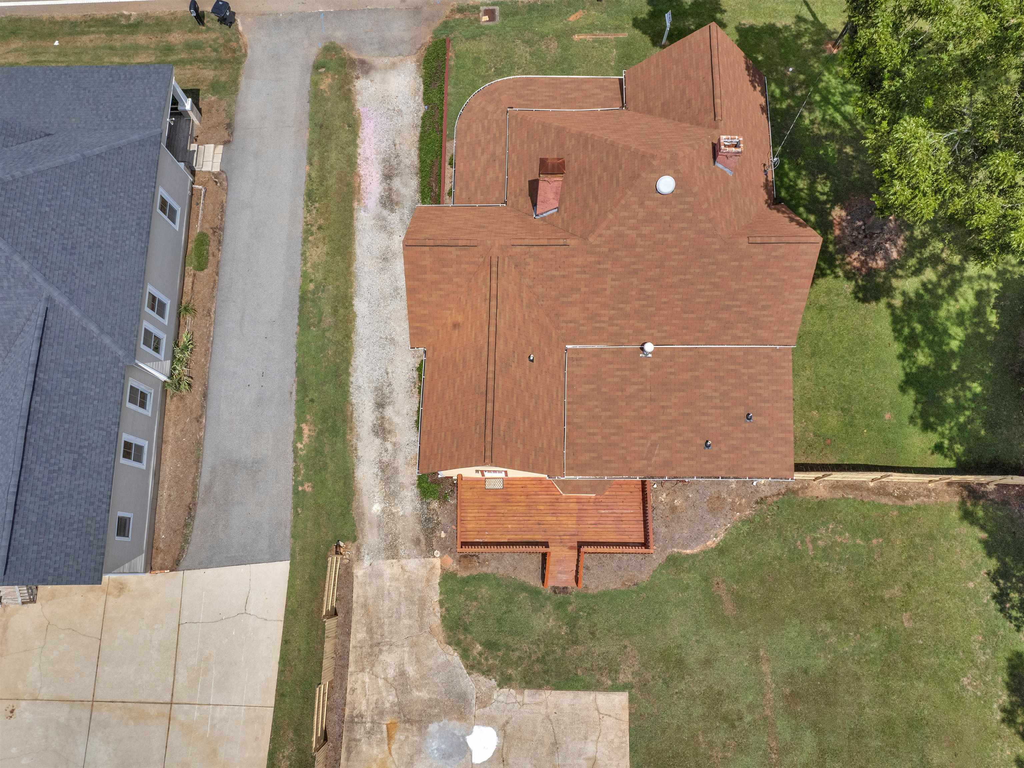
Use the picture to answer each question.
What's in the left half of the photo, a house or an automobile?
house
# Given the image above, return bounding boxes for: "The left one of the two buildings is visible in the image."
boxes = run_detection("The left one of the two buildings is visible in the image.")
[0,63,227,587]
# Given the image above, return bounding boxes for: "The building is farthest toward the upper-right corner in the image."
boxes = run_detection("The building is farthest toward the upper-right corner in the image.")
[403,25,819,495]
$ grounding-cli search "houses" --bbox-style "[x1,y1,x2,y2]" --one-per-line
[403,25,819,495]
[0,63,227,587]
